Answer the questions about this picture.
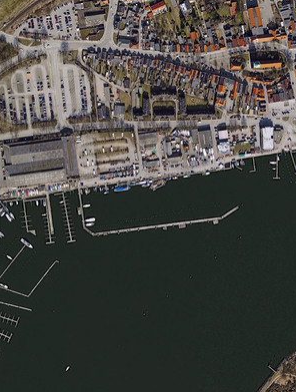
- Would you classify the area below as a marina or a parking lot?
marina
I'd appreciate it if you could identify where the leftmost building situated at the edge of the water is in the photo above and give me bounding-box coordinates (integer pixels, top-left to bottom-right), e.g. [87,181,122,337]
[2,136,68,191]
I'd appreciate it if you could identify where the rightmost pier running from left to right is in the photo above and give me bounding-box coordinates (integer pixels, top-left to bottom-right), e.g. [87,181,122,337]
[78,191,238,236]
